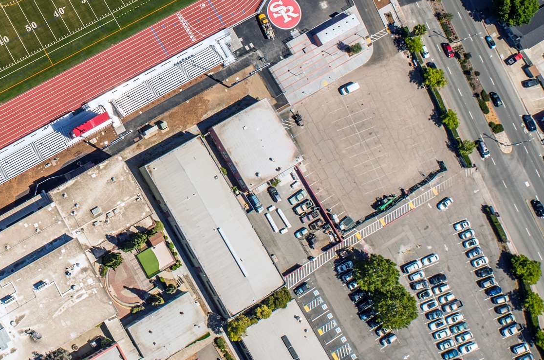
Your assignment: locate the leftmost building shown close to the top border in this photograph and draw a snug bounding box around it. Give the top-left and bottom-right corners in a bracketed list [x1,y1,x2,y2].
[311,13,360,48]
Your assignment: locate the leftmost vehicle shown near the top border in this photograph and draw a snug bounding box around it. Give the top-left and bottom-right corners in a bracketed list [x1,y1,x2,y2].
[258,13,275,40]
